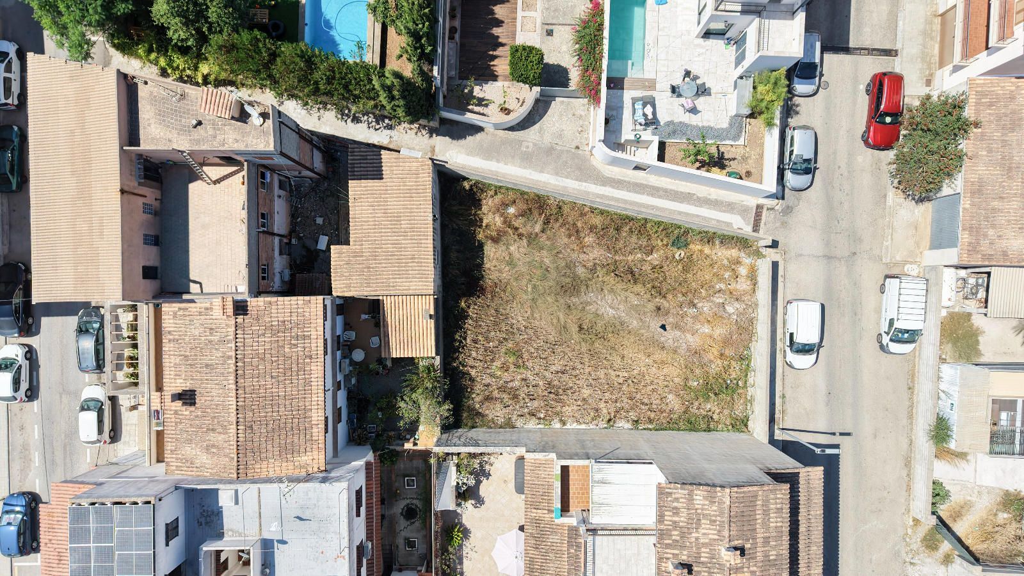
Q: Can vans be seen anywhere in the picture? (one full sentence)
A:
Yes, the image includes a van.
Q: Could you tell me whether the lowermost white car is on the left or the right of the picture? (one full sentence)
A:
The lowermost white car sits on the left side.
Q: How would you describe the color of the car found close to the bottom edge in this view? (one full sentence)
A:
The car found close to the bottom edge looks blue in the image.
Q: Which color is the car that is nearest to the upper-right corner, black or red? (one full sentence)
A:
In this view, the car that is nearest to the upper-right corner is red.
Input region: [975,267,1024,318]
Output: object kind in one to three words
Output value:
shed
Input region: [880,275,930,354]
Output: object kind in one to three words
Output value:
van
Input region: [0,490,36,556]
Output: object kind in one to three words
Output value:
car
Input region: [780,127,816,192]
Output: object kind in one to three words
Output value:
car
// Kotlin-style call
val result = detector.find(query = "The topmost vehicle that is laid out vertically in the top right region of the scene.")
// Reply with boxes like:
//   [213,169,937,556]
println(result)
[788,30,824,96]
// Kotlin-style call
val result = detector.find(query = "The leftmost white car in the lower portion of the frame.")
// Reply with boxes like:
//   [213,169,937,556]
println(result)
[0,343,30,404]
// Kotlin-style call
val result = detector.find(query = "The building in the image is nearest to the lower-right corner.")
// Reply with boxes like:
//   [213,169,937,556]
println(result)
[940,360,1024,458]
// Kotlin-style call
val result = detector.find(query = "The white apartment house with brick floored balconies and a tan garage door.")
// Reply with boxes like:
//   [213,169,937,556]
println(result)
[938,0,1024,89]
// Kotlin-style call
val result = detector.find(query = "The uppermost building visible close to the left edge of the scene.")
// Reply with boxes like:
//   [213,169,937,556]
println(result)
[25,58,323,301]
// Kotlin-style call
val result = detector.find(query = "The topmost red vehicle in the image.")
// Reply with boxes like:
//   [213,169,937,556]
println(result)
[864,76,905,149]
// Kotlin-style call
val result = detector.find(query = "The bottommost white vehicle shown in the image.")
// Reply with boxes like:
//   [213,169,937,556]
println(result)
[75,382,113,445]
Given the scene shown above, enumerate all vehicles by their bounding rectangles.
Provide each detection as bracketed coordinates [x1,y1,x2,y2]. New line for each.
[0,126,26,193]
[72,308,105,373]
[0,263,32,337]
[780,127,816,192]
[0,41,23,111]
[788,30,824,96]
[0,343,30,404]
[880,275,930,354]
[75,382,113,445]
[0,490,36,556]
[786,299,825,369]
[864,76,905,149]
